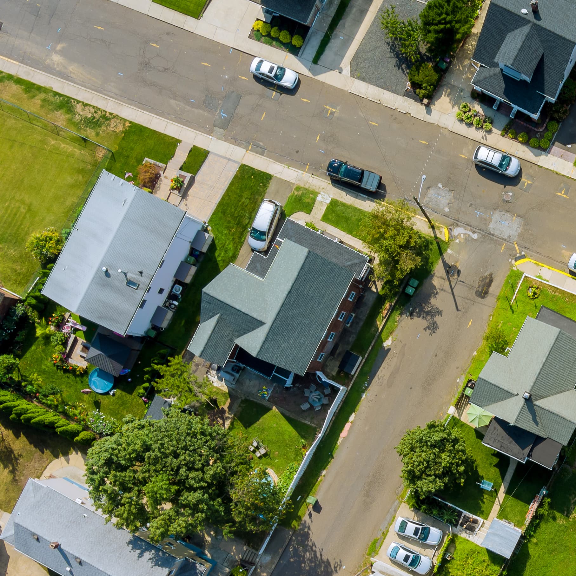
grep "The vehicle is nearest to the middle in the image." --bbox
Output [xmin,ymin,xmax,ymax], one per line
[246,196,284,251]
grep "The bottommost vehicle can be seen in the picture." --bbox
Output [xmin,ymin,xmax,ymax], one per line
[384,540,434,572]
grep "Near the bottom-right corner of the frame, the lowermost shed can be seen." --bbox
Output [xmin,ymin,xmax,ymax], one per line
[481,516,521,558]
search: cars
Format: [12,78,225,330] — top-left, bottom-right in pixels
[392,515,444,546]
[471,145,521,179]
[248,57,301,89]
[384,540,434,572]
[566,253,576,275]
[246,196,284,251]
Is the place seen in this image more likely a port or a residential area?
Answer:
residential area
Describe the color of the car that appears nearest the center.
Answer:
white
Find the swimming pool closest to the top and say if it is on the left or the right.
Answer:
left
